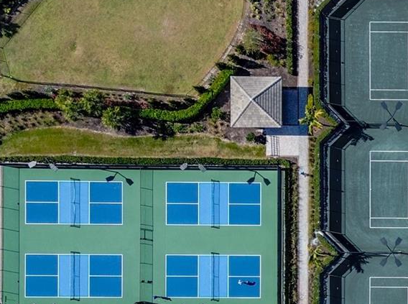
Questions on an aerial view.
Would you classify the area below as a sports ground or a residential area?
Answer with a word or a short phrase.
sports ground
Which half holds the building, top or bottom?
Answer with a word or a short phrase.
top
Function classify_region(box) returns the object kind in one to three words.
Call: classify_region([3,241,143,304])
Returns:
sports court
